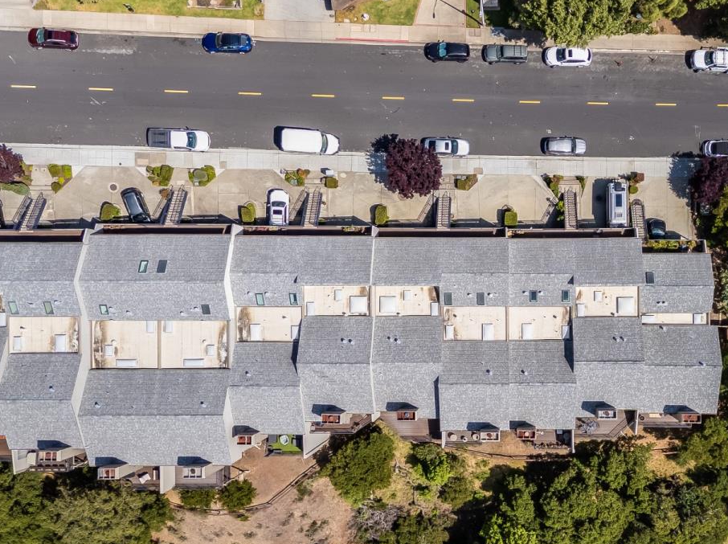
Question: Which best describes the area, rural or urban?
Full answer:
The area shown here is urban.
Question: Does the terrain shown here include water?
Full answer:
No, the scene doesn't show any water.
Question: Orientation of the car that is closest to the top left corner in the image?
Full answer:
The car that is closest to the top left corner has been laid out horizontally relative to the frame.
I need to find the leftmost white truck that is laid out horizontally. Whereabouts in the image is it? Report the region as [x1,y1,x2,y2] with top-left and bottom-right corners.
[146,126,214,153]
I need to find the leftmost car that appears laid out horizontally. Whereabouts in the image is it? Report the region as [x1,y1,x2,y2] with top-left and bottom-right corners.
[26,24,84,53]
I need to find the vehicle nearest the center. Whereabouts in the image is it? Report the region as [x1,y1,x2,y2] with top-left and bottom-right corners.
[266,183,291,226]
